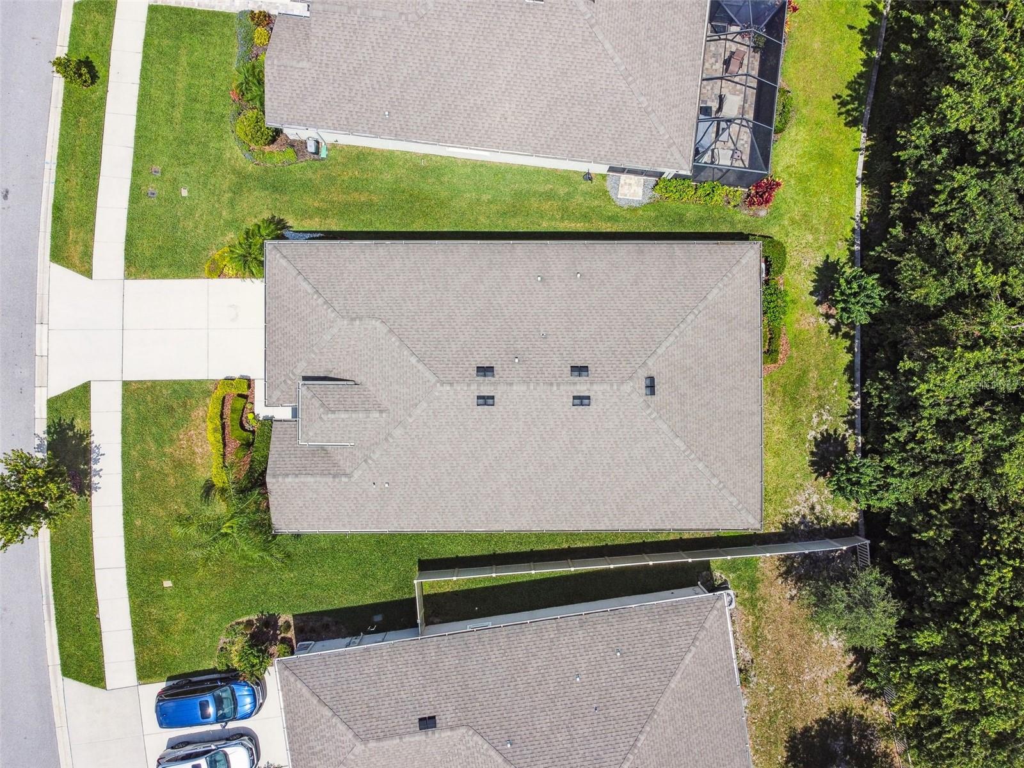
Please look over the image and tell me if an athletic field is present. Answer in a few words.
No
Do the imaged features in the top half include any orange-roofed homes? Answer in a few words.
No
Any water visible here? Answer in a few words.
No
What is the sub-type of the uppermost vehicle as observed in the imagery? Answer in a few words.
automobile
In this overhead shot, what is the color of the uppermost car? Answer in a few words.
blue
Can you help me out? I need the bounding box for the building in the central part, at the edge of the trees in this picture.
[262,238,764,534]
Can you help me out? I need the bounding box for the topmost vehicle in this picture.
[159,672,261,730]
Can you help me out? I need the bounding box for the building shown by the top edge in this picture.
[263,0,715,181]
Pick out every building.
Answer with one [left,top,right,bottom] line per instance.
[272,578,755,768]
[262,238,764,534]
[263,0,715,181]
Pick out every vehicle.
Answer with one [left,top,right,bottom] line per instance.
[159,672,261,730]
[155,737,257,768]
